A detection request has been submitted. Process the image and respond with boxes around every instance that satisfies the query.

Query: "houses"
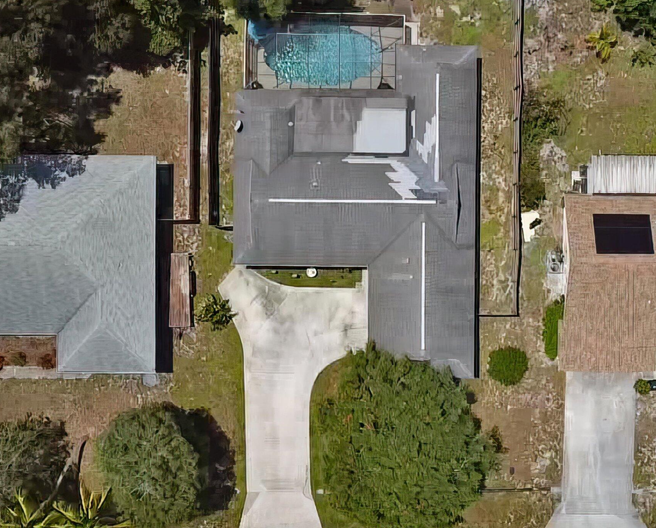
[233,44,479,379]
[0,155,157,375]
[559,195,656,374]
